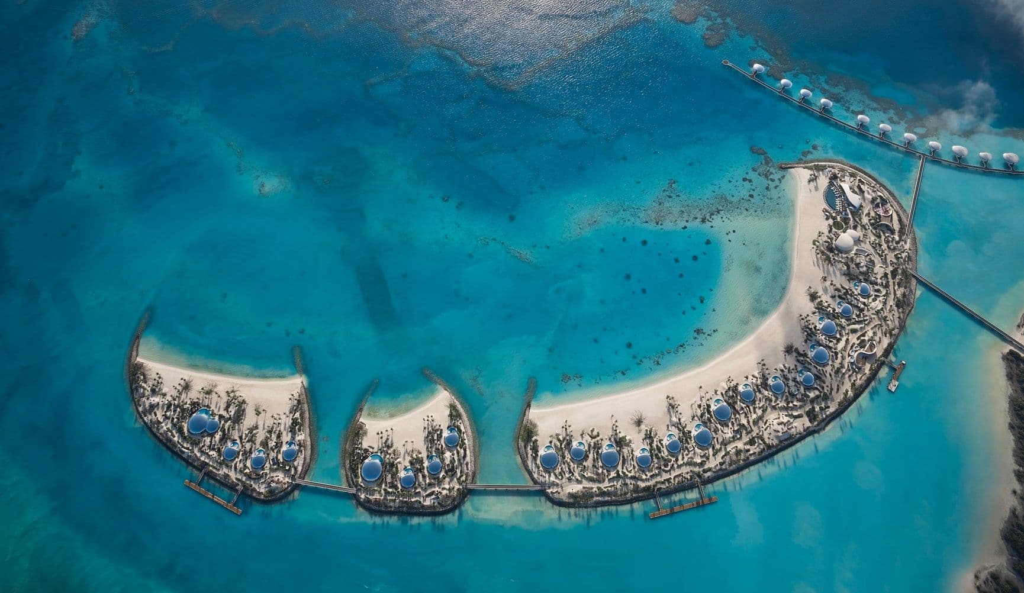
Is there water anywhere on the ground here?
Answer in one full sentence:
Yes, there's water in this view.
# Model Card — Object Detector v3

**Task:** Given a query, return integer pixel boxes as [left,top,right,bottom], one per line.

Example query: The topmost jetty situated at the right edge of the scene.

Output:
[723,59,1024,175]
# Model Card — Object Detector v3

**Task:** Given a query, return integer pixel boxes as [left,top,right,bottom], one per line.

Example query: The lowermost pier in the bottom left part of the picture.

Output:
[185,468,242,514]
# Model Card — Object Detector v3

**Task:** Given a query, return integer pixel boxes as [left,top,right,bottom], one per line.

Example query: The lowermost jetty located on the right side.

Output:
[649,481,718,518]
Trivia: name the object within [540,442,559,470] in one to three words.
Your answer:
house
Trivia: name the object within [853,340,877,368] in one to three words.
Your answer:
building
